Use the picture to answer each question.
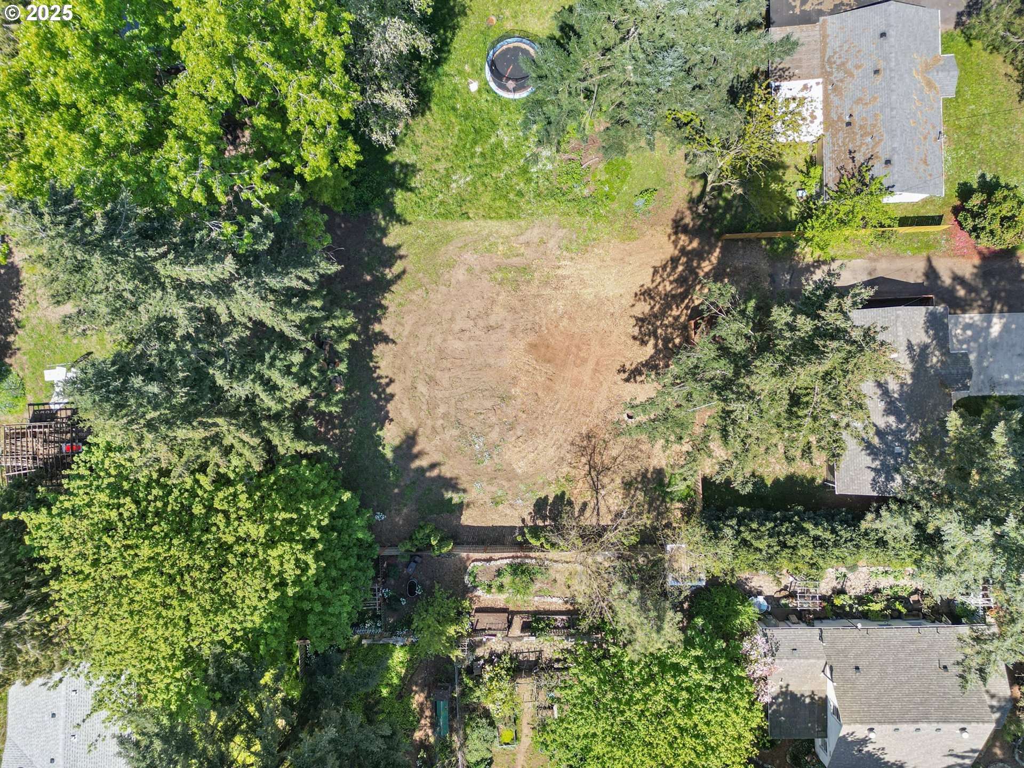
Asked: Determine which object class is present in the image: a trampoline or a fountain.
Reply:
trampoline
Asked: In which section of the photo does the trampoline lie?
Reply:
top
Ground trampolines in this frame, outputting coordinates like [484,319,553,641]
[484,30,542,97]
